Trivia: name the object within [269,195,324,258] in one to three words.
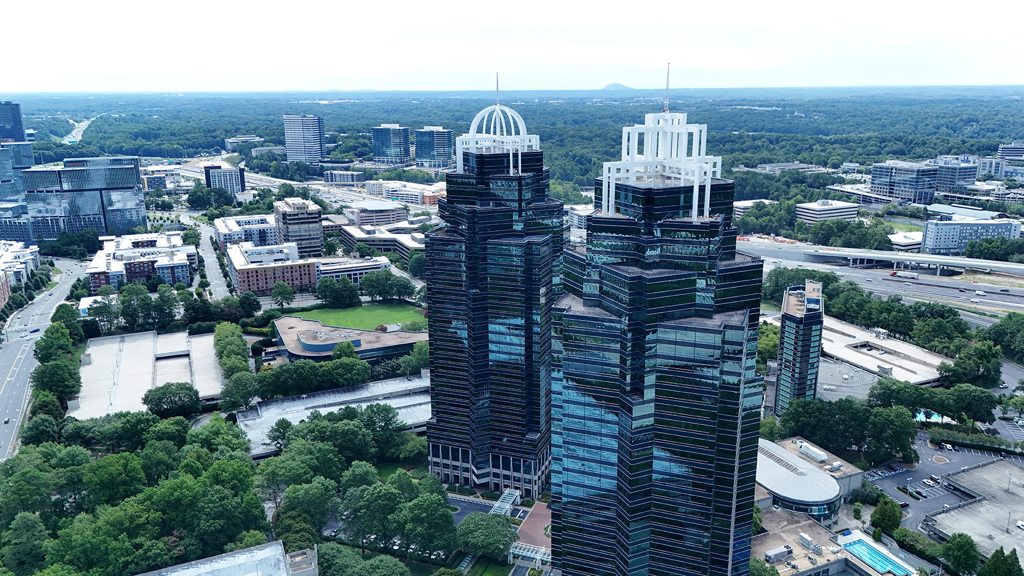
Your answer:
building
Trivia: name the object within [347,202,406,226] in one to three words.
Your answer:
building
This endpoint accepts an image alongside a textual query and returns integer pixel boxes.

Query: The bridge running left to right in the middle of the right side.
[736,241,1024,281]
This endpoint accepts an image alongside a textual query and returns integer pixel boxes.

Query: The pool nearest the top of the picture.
[917,411,943,423]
